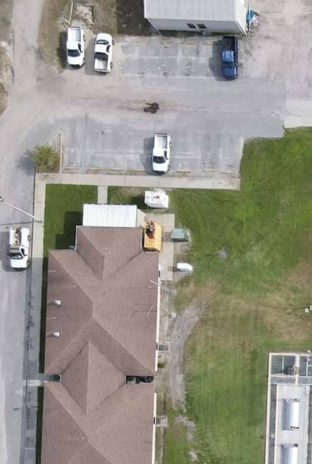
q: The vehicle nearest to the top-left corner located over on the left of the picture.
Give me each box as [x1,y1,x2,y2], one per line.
[66,27,85,68]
